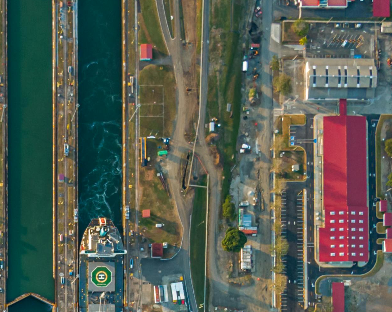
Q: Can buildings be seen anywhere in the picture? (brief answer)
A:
Yes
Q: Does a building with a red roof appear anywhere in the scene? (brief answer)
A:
Yes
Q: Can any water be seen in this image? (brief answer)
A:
Yes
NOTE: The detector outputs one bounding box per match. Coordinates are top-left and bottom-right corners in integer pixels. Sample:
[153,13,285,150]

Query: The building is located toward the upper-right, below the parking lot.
[304,59,378,101]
